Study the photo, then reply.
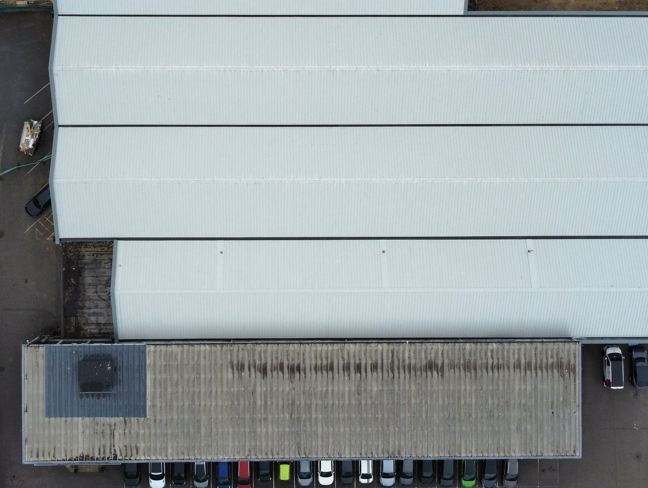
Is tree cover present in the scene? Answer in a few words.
No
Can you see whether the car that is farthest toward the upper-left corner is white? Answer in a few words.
No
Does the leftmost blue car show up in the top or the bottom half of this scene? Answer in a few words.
bottom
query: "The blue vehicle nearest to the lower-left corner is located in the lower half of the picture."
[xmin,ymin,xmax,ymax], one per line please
[213,464,233,488]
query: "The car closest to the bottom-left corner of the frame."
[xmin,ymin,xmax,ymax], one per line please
[122,464,142,487]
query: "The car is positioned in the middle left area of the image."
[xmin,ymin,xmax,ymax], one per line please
[25,184,51,216]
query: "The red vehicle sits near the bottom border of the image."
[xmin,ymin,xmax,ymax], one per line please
[234,464,252,488]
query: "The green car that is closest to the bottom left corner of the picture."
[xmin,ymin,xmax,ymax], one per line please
[276,464,293,483]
